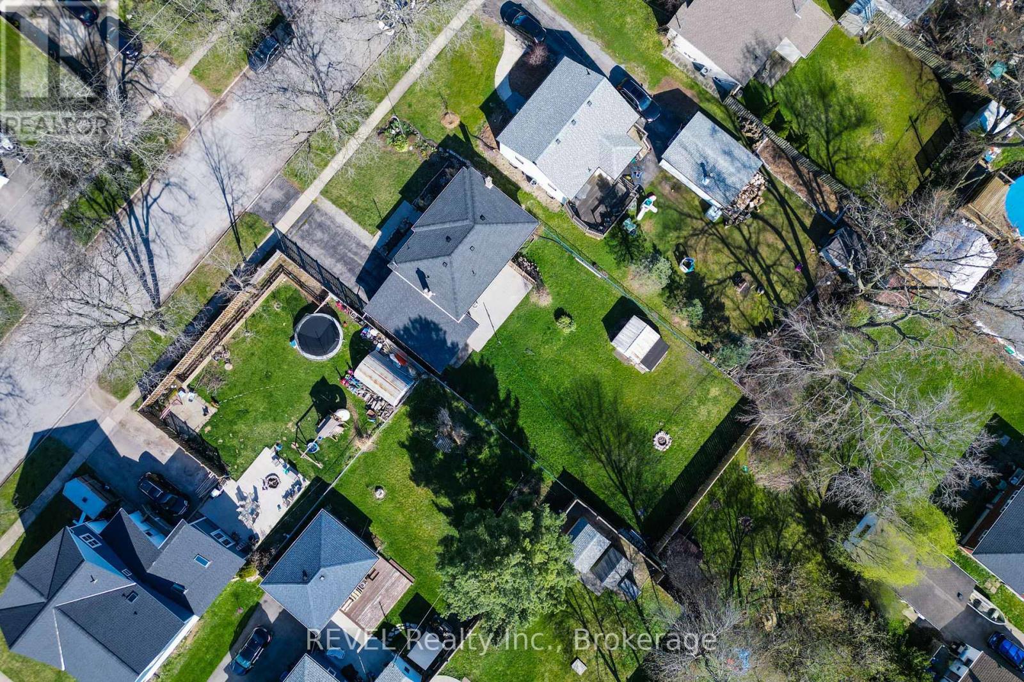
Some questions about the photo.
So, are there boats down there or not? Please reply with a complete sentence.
Yes, the frame does contain a boat.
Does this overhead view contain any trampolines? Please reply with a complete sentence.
Yes, the image includes a trampoline.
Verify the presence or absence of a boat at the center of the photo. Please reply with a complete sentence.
No, I can find no boat at the center of the photo.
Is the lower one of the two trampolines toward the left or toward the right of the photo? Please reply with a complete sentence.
It is on the left.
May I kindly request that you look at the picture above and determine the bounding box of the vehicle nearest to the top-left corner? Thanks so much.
[55,0,97,28]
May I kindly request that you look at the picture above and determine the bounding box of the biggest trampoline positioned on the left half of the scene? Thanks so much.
[282,309,342,362]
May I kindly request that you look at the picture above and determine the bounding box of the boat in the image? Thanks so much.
[967,591,1020,636]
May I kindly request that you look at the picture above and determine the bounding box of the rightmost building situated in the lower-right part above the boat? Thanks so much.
[951,485,1024,602]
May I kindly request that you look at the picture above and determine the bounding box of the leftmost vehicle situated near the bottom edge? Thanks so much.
[223,622,274,682]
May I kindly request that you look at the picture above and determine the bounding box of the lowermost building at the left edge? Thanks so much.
[0,504,254,682]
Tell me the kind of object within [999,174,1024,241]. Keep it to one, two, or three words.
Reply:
swimming pool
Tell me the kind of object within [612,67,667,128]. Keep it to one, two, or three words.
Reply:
car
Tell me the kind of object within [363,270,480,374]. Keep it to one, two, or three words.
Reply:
building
